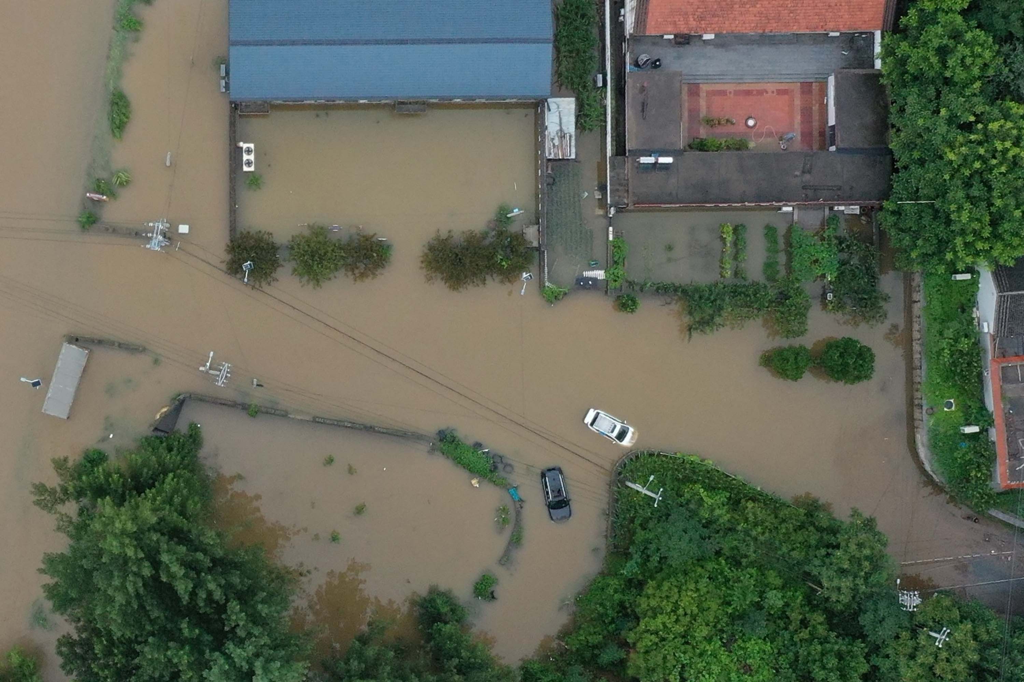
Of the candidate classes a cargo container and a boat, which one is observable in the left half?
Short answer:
cargo container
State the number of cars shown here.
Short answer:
two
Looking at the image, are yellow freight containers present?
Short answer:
No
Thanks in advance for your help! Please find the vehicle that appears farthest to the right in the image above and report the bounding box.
[584,410,638,447]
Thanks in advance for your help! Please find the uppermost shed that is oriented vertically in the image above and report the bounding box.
[546,98,575,164]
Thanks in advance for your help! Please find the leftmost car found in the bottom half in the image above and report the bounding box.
[542,465,572,521]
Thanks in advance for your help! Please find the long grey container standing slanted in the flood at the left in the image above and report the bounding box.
[41,342,92,420]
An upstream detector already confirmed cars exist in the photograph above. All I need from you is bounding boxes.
[584,410,638,447]
[542,465,572,521]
